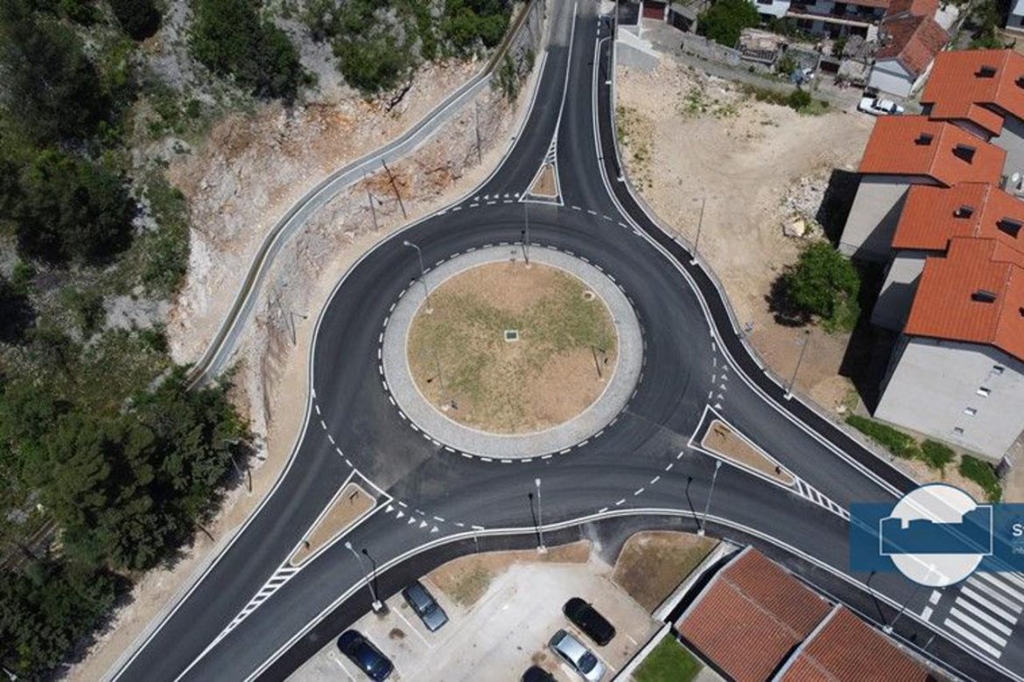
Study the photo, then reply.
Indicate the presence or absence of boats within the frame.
No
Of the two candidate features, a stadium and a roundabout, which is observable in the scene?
roundabout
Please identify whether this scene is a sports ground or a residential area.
residential area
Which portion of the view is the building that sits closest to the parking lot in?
bottom right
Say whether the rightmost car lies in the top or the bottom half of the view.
top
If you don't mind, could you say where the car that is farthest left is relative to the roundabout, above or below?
below it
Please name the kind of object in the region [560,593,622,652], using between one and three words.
car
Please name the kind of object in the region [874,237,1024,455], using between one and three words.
house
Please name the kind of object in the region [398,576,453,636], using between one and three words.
car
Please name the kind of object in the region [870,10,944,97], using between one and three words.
house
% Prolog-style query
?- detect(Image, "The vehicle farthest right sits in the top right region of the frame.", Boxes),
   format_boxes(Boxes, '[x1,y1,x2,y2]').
[856,94,907,116]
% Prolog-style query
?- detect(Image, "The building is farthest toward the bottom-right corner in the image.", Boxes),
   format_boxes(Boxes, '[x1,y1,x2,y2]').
[780,603,948,682]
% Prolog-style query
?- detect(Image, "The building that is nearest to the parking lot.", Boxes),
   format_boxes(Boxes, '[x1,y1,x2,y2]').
[677,544,833,682]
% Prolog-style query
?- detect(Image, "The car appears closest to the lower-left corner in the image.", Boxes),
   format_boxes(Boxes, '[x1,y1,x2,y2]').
[332,626,396,682]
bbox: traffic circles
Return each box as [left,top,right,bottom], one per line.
[311,192,729,533]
